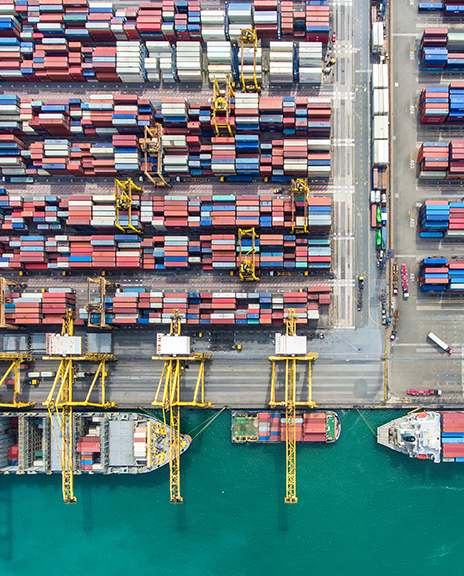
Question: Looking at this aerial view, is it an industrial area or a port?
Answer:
port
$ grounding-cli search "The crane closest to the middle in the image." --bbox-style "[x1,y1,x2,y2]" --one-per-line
[235,226,264,284]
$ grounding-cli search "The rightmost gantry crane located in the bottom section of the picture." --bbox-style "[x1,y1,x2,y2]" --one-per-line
[266,308,319,503]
